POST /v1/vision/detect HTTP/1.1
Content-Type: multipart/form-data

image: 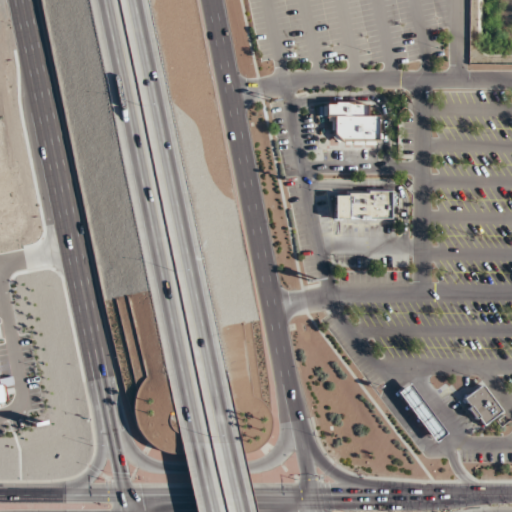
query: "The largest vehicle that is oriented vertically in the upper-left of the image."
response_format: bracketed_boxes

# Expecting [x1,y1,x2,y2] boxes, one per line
[116,78,128,121]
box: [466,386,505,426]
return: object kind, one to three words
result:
building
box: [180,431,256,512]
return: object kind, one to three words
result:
overpass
